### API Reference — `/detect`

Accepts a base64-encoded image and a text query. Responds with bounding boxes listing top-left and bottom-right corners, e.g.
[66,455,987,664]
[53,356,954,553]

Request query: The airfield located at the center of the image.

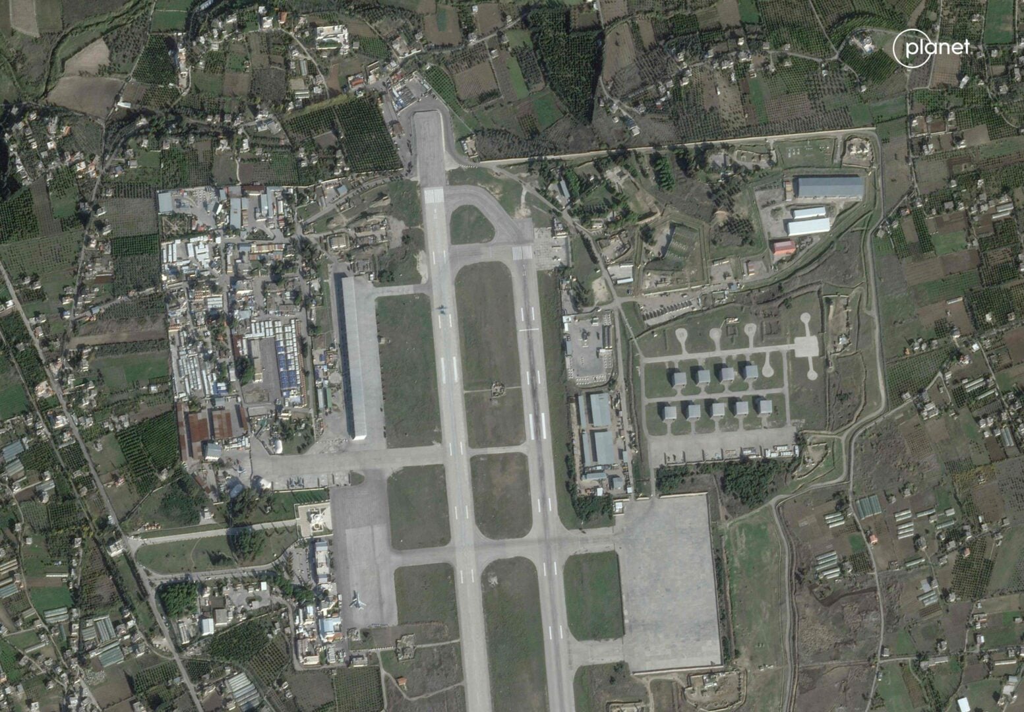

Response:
[221,72,819,712]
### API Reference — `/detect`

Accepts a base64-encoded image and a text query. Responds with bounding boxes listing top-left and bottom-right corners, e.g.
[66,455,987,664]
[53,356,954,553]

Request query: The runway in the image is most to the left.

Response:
[421,187,492,712]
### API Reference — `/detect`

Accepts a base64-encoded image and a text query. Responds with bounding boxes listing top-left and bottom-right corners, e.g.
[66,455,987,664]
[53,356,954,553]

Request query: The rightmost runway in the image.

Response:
[511,242,575,712]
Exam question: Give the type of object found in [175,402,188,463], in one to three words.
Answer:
building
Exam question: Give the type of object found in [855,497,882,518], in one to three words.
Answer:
greenhouse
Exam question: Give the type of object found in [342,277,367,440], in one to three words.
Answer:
hangar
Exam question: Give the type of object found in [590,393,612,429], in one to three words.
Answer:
building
